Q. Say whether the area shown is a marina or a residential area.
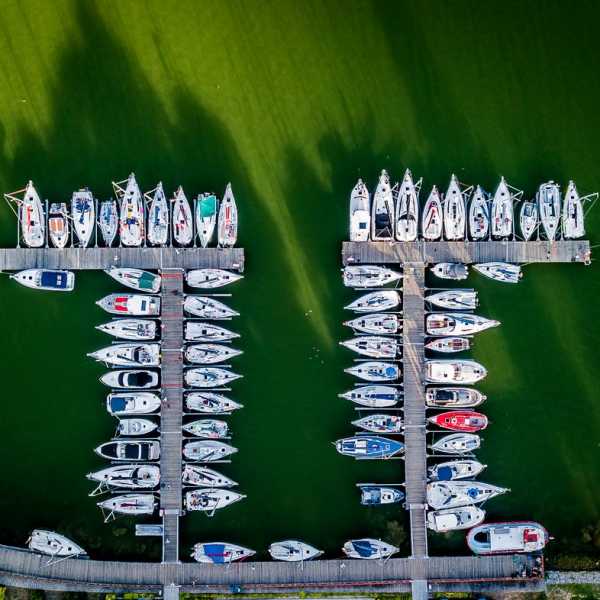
marina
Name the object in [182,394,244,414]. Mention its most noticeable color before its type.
white boat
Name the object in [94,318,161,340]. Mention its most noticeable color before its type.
white boat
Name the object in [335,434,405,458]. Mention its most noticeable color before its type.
blue boat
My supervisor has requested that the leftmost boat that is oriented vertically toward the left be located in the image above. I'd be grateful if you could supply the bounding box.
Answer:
[7,179,46,252]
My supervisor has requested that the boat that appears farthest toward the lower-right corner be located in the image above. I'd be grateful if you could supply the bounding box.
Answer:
[464,520,551,555]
